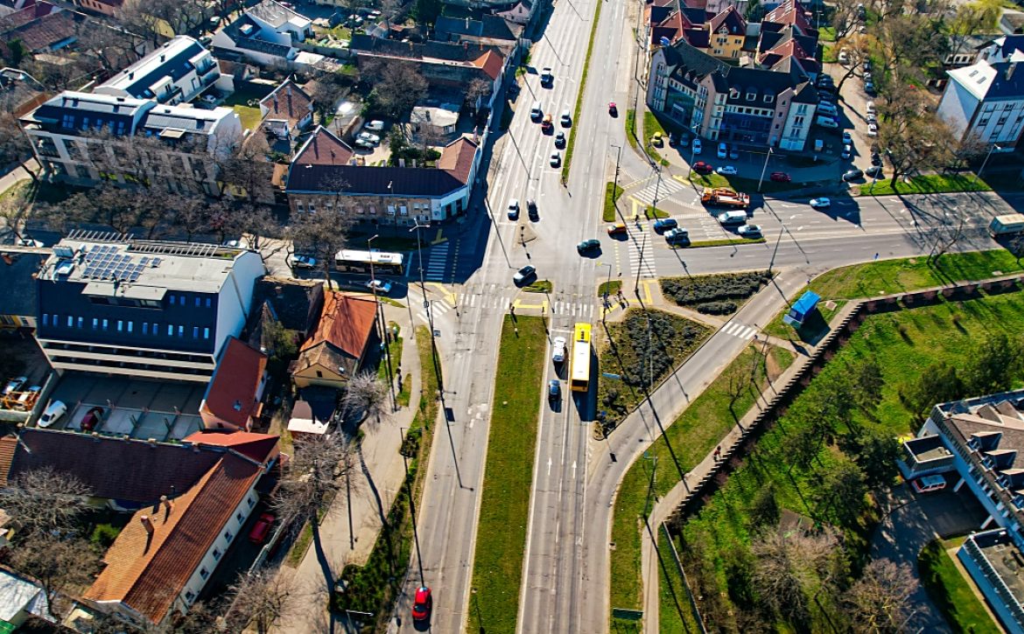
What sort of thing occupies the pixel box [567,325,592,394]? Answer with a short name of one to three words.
bus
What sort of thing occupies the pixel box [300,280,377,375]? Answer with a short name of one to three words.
house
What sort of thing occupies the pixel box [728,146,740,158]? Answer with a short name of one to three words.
vehicle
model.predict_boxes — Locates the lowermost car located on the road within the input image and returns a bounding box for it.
[412,587,432,624]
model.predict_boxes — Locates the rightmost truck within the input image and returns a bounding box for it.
[993,215,1024,239]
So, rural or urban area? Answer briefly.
urban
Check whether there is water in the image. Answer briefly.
No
